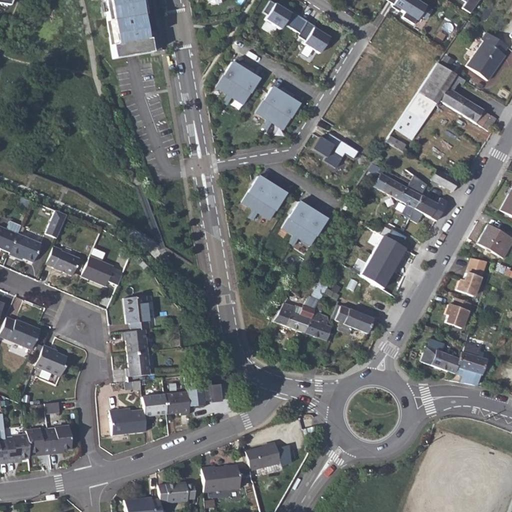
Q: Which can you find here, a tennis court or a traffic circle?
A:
traffic circle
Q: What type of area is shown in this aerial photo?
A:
residential area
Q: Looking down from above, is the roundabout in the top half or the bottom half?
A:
bottom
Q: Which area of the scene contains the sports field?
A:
bottom right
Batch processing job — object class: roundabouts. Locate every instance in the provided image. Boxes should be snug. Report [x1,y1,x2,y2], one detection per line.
[326,367,419,460]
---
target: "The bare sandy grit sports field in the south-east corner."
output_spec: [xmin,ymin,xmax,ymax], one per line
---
[404,431,512,512]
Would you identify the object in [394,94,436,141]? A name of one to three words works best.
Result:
building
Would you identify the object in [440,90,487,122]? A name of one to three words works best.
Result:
house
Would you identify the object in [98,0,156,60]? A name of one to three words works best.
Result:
building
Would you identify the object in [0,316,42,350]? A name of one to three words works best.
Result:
house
